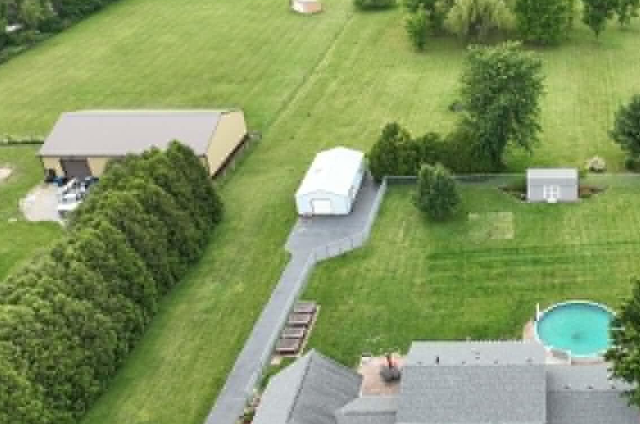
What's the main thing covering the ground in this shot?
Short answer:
grass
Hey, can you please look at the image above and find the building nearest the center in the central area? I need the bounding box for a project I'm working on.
[293,128,374,215]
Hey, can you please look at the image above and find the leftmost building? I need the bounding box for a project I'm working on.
[32,110,239,176]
